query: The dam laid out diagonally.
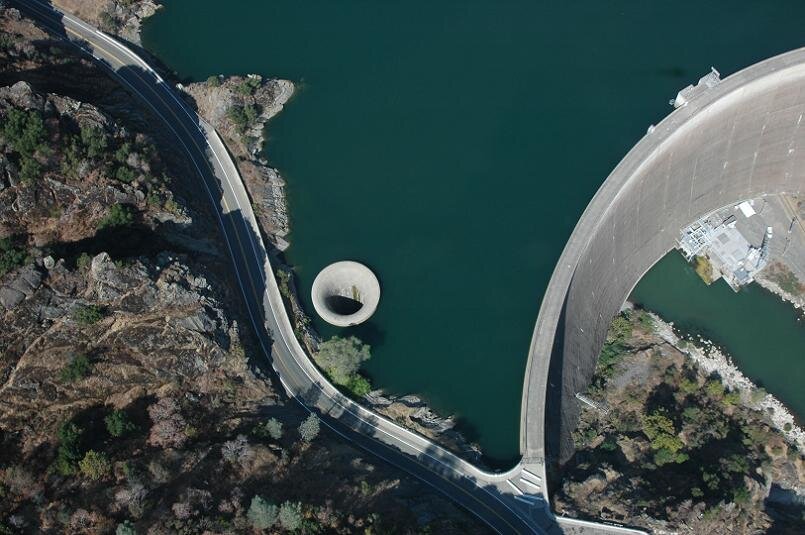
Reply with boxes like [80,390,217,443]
[519,46,805,468]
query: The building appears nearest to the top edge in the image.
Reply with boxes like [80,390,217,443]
[697,58,728,97]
